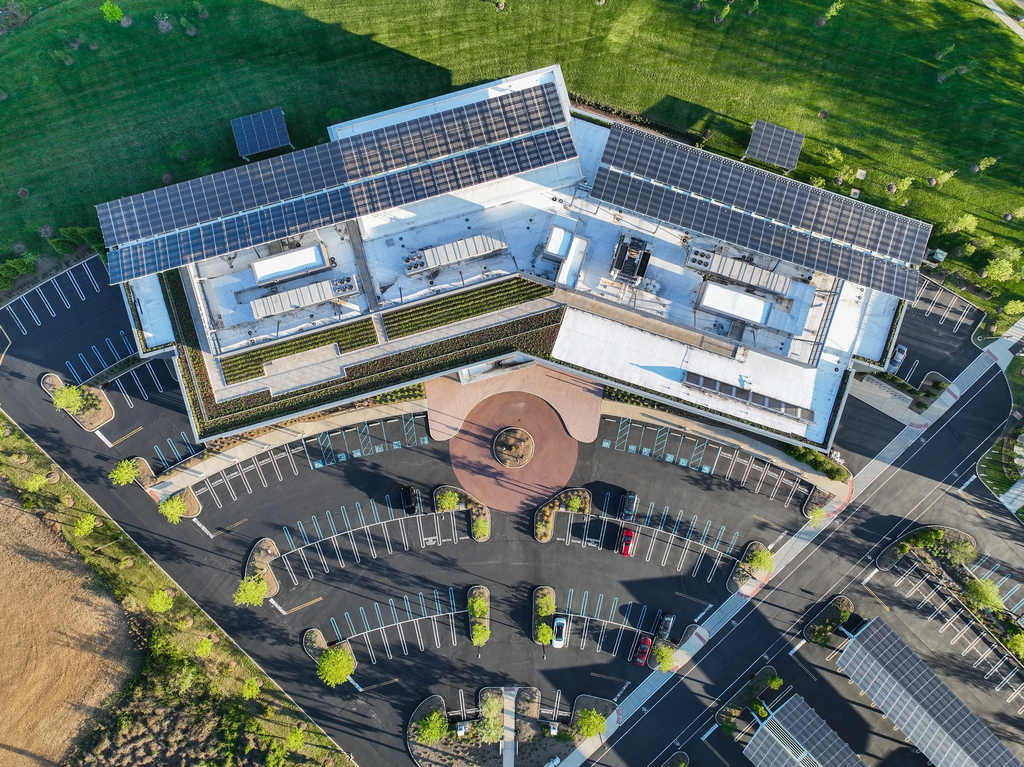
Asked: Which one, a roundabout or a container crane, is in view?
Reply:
roundabout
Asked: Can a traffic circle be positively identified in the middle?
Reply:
Yes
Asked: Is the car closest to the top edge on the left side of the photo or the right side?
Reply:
right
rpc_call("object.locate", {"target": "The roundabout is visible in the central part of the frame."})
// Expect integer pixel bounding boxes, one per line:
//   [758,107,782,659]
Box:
[449,391,578,512]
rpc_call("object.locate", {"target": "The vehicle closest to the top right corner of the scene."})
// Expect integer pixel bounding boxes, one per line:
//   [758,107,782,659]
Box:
[886,343,906,374]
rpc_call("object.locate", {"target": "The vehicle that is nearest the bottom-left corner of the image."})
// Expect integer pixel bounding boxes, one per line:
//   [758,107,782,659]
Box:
[402,485,418,516]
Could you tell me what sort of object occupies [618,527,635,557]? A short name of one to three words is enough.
car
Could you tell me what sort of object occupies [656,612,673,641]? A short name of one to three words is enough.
car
